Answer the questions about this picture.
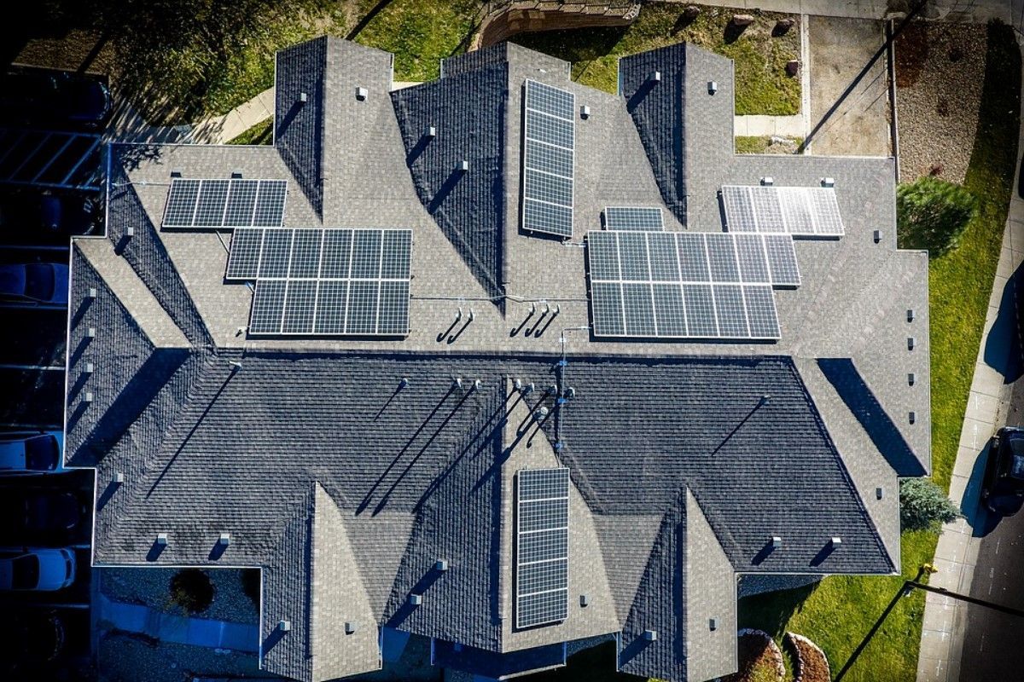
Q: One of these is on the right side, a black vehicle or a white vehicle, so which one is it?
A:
black vehicle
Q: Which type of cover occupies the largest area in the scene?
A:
buildings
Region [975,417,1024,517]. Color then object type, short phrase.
black car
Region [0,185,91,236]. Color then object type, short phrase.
black car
